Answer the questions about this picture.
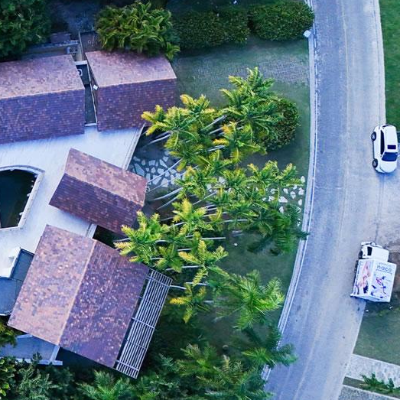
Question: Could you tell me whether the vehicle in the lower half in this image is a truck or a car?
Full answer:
The vehicle in the lower half appears to be a truck.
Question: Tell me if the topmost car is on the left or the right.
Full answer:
The topmost car sits on the right side.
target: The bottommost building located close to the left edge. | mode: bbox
[8,226,149,368]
